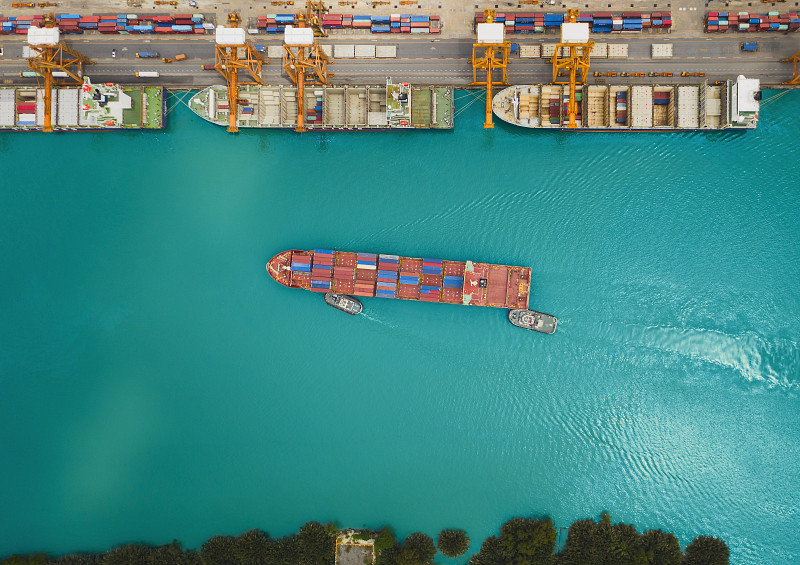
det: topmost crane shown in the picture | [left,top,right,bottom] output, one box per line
[307,0,329,37]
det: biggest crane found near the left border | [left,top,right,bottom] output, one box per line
[27,18,94,131]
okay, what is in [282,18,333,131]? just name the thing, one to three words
container crane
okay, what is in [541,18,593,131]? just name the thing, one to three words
container crane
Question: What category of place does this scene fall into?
port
